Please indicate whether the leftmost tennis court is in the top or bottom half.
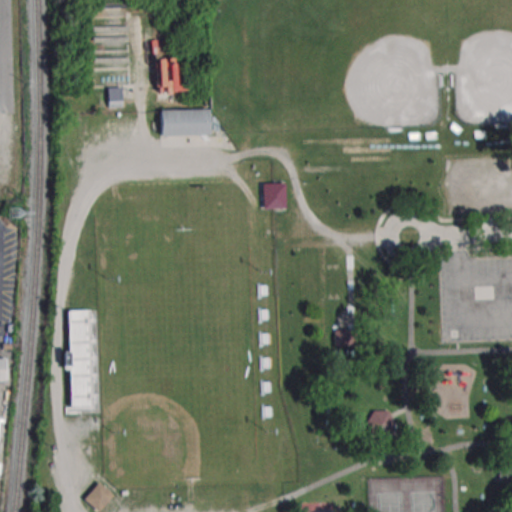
bottom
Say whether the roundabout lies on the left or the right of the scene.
right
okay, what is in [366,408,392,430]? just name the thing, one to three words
building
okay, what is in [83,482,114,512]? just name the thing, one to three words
building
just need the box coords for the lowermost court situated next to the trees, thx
[370,478,442,512]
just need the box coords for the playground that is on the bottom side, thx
[437,364,476,419]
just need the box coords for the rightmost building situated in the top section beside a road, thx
[262,184,286,212]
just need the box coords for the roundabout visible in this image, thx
[376,204,512,268]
